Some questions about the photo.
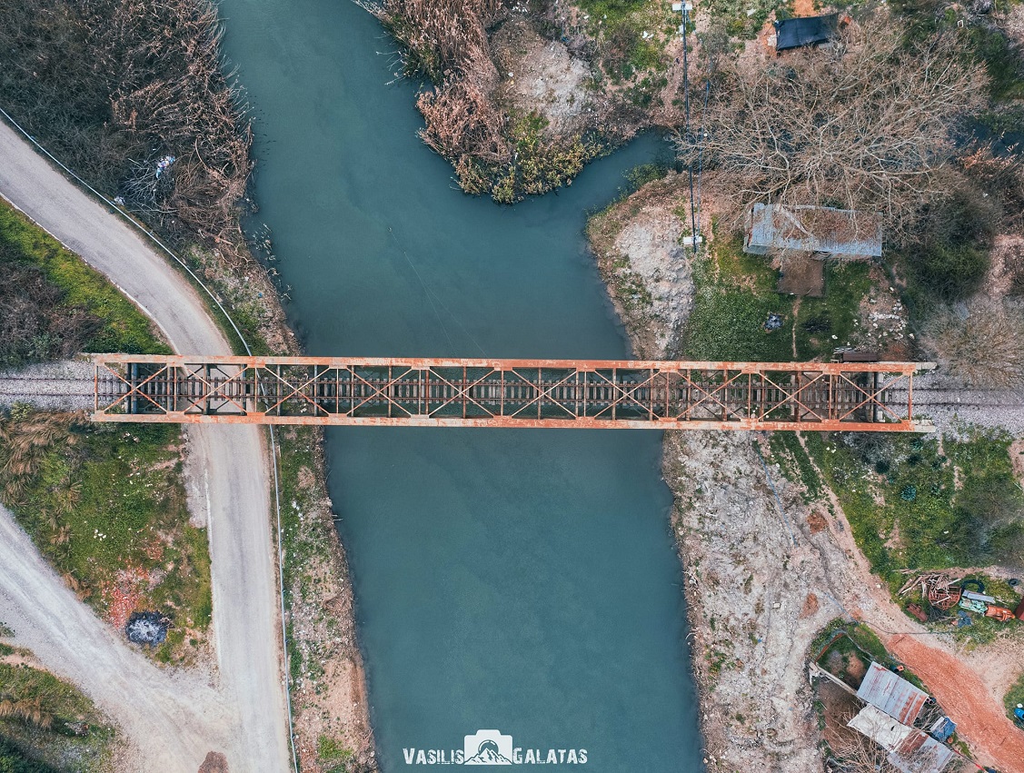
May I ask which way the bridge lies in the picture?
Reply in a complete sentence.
The bridge is laid out from side to side.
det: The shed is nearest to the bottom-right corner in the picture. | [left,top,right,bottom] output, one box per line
[874,722,954,773]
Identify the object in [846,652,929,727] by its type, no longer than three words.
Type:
shed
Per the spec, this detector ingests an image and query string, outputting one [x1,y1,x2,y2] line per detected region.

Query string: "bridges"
[88,355,915,433]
